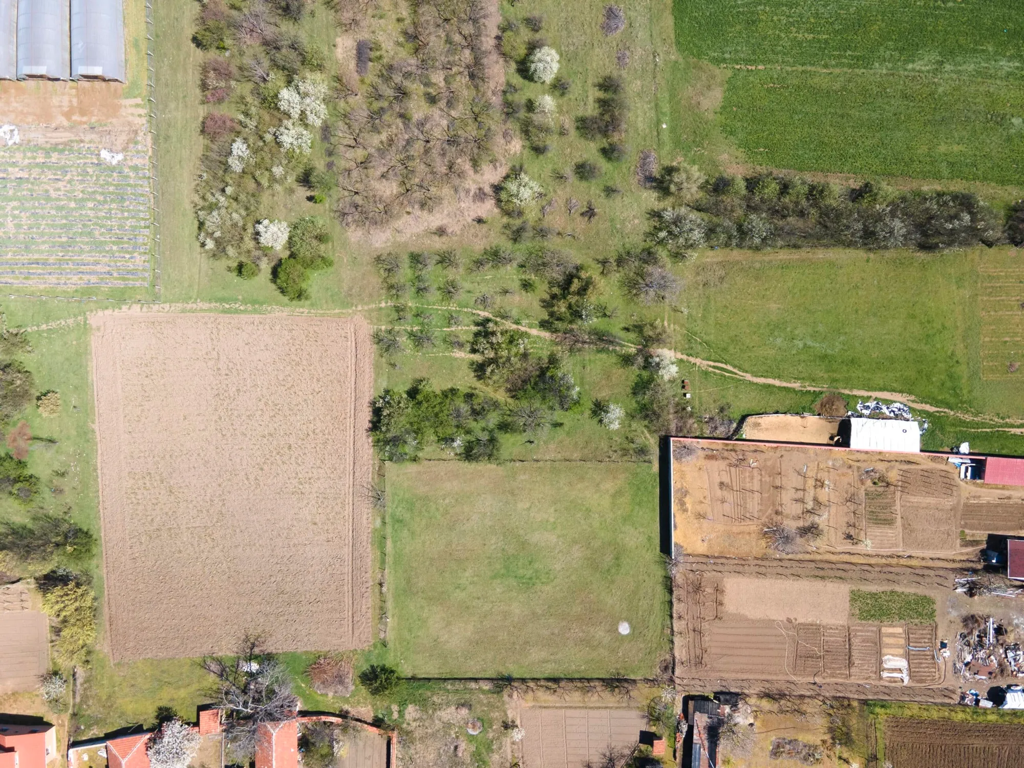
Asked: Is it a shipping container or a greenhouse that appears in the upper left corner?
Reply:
greenhouse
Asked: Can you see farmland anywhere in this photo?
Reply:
Yes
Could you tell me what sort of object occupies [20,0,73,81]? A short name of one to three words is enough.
greenhouse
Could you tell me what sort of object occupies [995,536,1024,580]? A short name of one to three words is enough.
house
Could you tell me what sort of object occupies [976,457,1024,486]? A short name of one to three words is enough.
building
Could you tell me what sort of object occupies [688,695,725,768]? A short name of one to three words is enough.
barn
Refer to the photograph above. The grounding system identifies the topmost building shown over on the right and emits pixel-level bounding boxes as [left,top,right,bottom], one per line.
[844,418,920,452]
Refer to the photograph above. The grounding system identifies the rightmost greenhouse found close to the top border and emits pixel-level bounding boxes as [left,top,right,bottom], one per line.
[73,0,126,82]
